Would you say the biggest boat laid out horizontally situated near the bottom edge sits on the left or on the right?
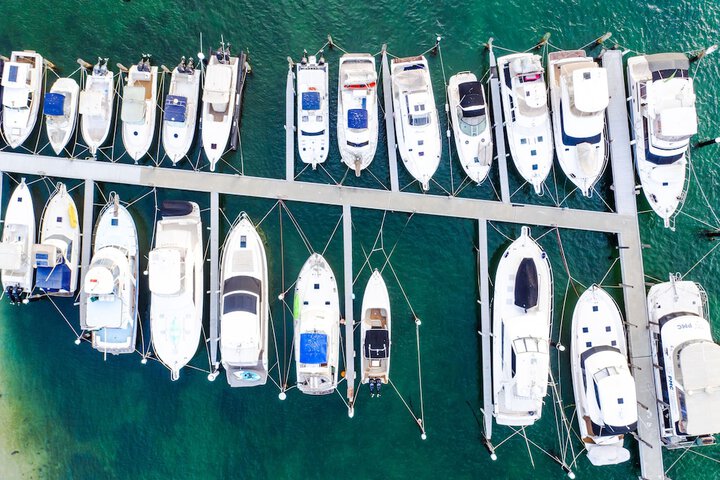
right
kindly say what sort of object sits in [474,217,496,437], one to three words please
pier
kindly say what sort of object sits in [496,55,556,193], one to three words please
boat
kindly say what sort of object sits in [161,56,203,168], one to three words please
boat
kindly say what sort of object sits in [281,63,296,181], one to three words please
pier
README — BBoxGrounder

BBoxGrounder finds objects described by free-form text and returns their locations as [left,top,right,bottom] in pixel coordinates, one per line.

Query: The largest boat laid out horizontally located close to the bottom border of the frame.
[584,444,627,464]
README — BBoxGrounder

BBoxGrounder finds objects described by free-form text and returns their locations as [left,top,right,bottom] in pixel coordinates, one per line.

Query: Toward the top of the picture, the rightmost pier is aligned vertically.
[603,50,638,212]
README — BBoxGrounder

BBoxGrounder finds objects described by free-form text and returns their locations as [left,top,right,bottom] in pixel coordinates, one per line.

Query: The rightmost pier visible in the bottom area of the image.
[615,210,664,480]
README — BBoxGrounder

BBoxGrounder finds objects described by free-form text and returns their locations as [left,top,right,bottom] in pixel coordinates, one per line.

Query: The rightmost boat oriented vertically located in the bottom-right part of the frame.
[641,275,720,450]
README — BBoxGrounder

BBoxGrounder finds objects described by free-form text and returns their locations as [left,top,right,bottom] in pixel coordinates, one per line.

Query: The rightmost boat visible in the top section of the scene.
[625,55,701,229]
